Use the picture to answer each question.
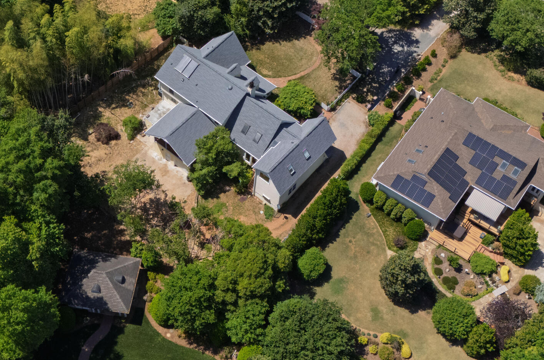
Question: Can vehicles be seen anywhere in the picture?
No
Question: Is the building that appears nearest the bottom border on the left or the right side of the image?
left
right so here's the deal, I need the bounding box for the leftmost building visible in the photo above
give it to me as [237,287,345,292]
[60,249,142,322]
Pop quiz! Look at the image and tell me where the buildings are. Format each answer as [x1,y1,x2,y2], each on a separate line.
[143,32,337,209]
[371,87,544,230]
[60,249,142,322]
